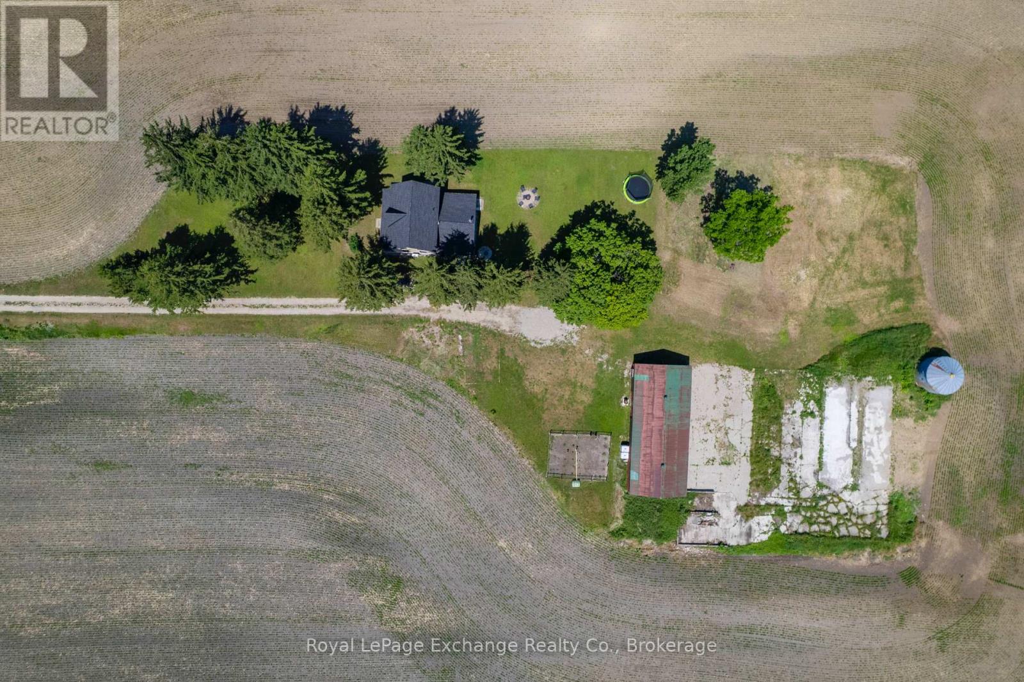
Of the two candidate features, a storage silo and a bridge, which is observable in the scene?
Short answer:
storage silo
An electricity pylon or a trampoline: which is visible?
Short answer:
trampoline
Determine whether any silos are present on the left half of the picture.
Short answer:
No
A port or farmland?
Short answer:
farmland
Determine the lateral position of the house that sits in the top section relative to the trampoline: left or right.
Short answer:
left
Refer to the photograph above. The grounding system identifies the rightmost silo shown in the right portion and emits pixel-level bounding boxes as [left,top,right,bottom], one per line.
[914,356,965,395]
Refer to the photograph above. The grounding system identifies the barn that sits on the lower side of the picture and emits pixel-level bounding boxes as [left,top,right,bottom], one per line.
[627,364,691,498]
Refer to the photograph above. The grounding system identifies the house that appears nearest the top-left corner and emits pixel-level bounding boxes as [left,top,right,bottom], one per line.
[378,182,486,259]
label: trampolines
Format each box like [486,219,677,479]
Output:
[622,170,653,205]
